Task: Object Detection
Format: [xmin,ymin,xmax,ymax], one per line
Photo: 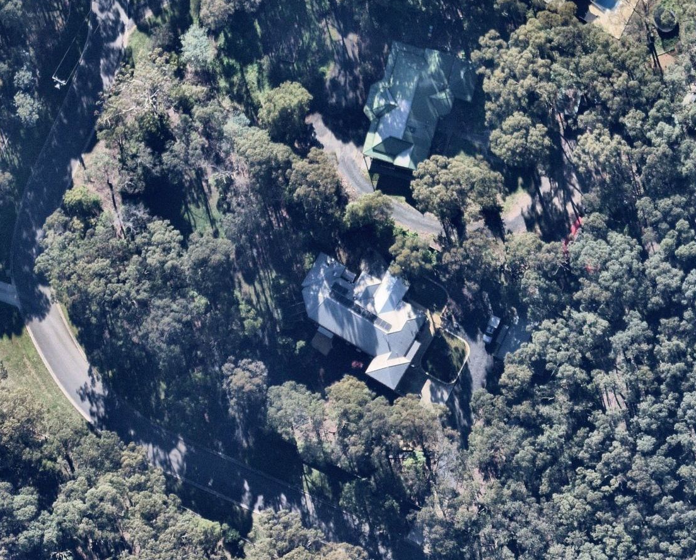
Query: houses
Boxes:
[363,40,476,175]
[301,252,427,392]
